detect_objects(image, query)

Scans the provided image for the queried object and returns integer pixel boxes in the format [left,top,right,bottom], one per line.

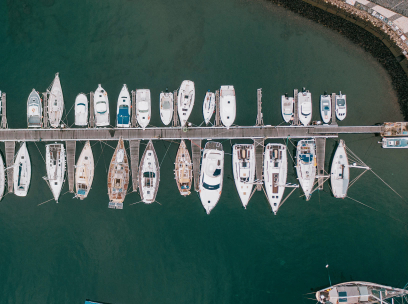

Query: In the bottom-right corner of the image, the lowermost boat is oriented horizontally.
[300,268,408,304]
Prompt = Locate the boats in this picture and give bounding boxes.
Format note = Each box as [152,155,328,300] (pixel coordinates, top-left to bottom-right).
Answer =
[75,139,94,201]
[75,92,88,126]
[220,84,237,131]
[160,88,174,126]
[94,79,110,127]
[27,87,43,127]
[319,91,331,124]
[278,92,292,125]
[287,137,335,201]
[298,89,313,127]
[335,92,347,122]
[46,70,64,127]
[42,143,67,204]
[198,140,225,216]
[136,137,171,204]
[178,79,196,127]
[136,88,152,133]
[379,137,408,148]
[300,268,408,304]
[234,144,266,209]
[106,131,130,207]
[331,137,405,206]
[261,143,302,215]
[174,137,193,195]
[11,141,31,196]
[118,79,132,127]
[203,91,216,126]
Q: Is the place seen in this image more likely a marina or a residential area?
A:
marina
